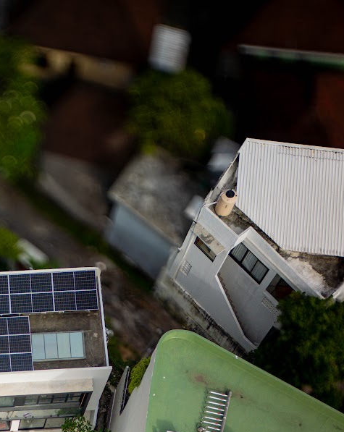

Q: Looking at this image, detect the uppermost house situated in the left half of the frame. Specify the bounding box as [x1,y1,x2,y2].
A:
[9,0,180,85]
